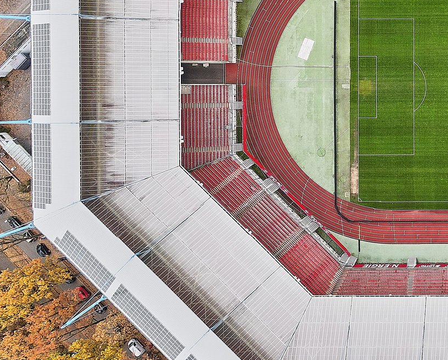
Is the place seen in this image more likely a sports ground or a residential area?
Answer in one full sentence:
The area seen from above is a sports ground.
